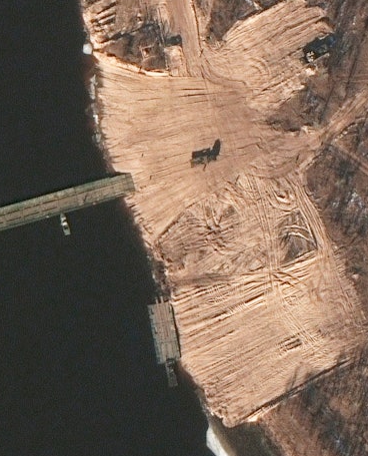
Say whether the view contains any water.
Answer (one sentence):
Yes, water can be seen from above here.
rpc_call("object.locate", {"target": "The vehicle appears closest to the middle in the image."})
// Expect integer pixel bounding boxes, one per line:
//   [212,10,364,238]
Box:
[189,153,217,169]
